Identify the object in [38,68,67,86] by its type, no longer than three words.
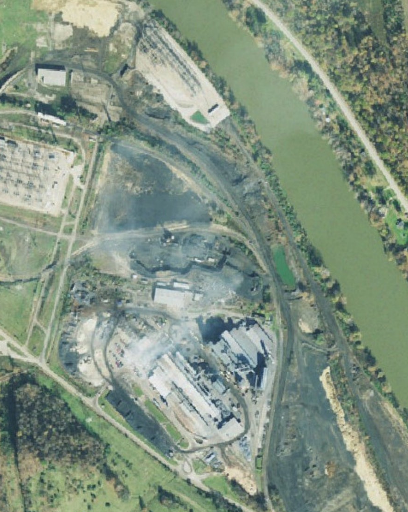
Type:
building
